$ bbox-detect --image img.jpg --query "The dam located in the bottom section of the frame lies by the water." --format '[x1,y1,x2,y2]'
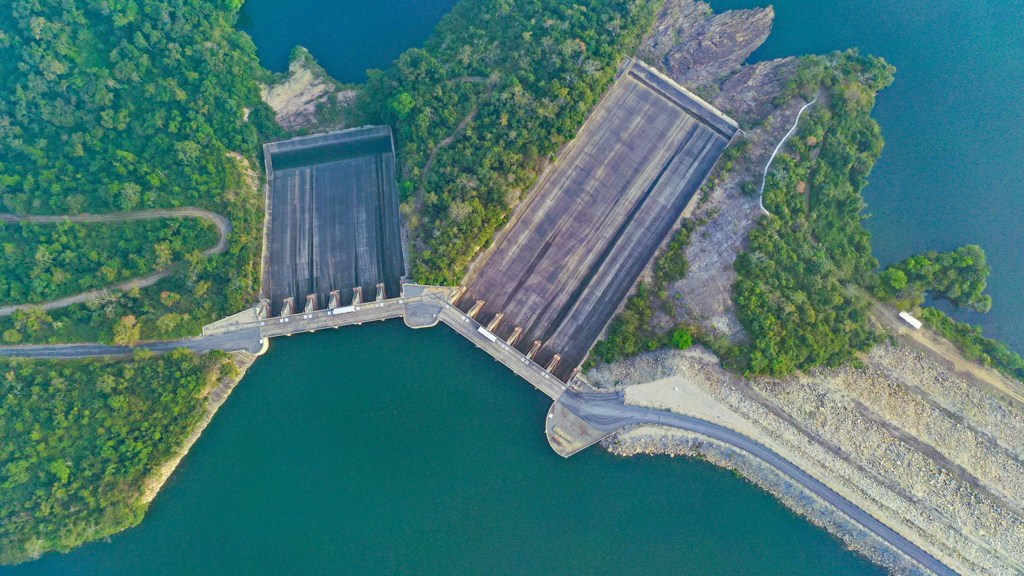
[590,343,1024,576]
